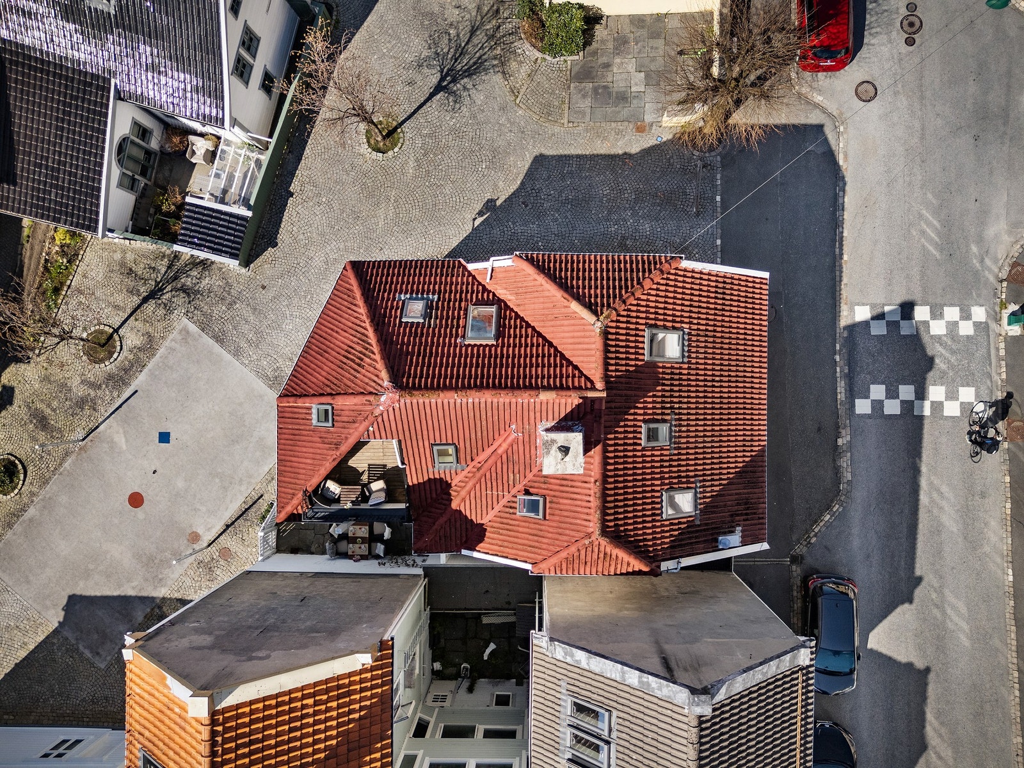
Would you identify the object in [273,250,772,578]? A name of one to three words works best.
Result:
house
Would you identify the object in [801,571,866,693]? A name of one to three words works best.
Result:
car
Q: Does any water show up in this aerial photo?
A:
No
